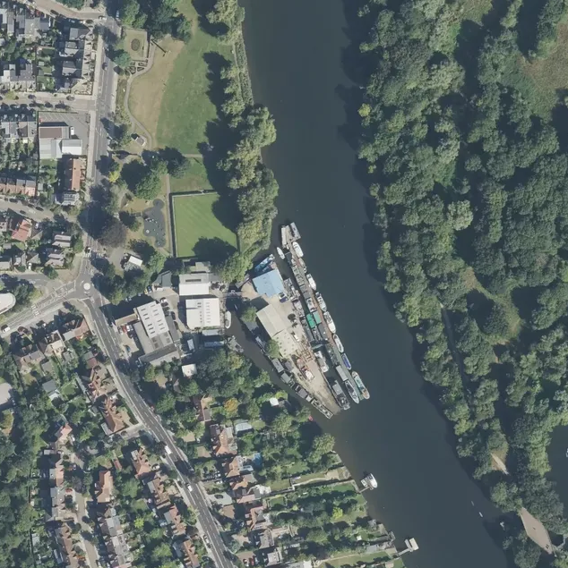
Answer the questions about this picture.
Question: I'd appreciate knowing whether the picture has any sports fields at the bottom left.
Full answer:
No, the scene shows no sports field at the bottom left.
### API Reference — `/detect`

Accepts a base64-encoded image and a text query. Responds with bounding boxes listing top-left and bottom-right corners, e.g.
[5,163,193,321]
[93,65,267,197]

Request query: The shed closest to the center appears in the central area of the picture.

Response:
[253,268,285,299]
